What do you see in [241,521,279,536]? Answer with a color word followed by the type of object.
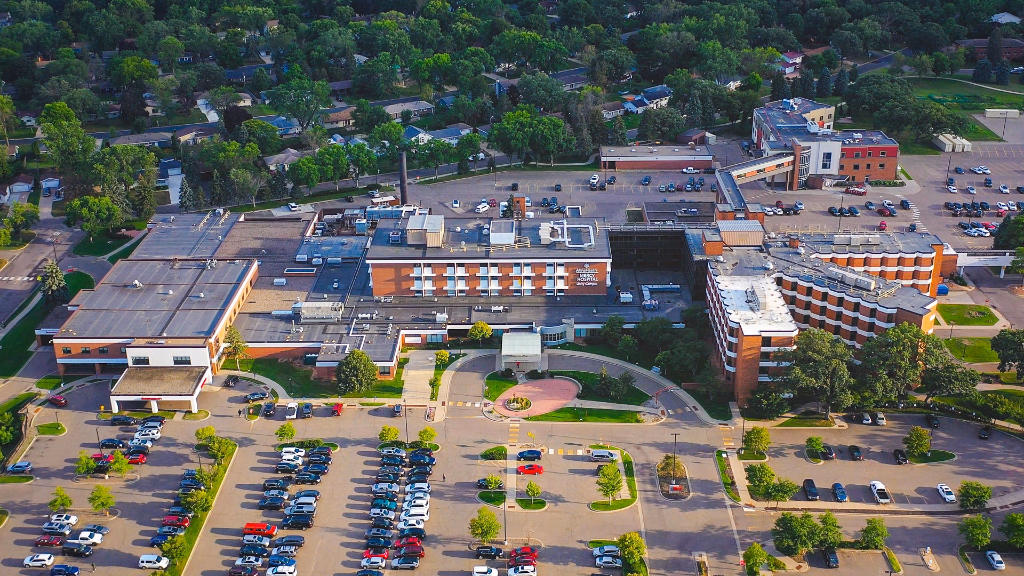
red vehicle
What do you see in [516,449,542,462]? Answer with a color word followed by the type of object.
blue vehicle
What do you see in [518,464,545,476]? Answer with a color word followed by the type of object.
red vehicle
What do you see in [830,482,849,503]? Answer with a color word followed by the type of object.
blue car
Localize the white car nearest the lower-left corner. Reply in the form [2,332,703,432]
[21,553,54,568]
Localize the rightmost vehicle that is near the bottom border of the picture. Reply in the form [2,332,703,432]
[982,551,1008,572]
